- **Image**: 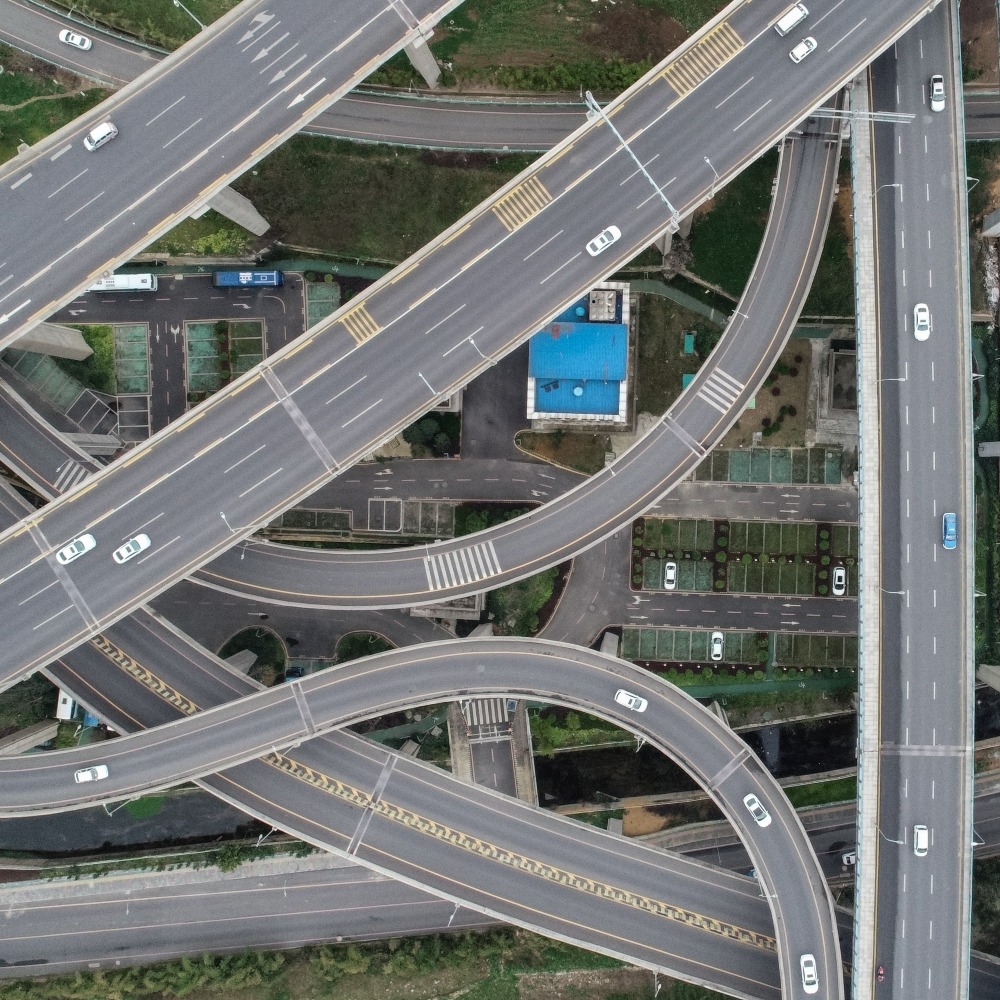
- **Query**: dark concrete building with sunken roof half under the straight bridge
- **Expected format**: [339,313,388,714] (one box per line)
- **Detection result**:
[816,338,858,437]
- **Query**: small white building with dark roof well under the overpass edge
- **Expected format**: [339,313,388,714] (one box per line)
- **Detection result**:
[428,386,467,412]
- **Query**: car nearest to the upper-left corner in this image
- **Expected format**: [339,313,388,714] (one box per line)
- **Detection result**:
[60,30,93,51]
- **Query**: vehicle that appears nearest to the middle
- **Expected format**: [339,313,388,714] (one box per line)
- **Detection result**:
[664,562,677,589]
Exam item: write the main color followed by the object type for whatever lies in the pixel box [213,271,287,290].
blue vehicle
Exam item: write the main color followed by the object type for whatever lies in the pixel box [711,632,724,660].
white vehicle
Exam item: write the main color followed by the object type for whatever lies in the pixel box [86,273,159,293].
white vehicle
